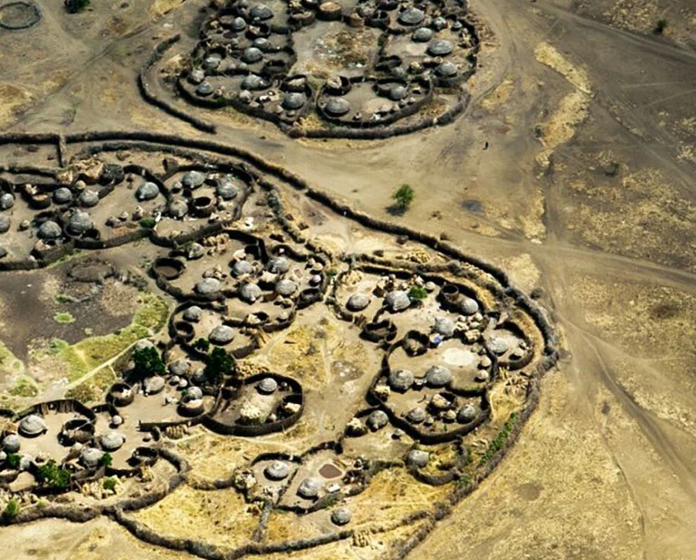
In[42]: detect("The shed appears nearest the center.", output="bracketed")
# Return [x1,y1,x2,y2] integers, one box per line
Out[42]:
[346,296,371,315]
